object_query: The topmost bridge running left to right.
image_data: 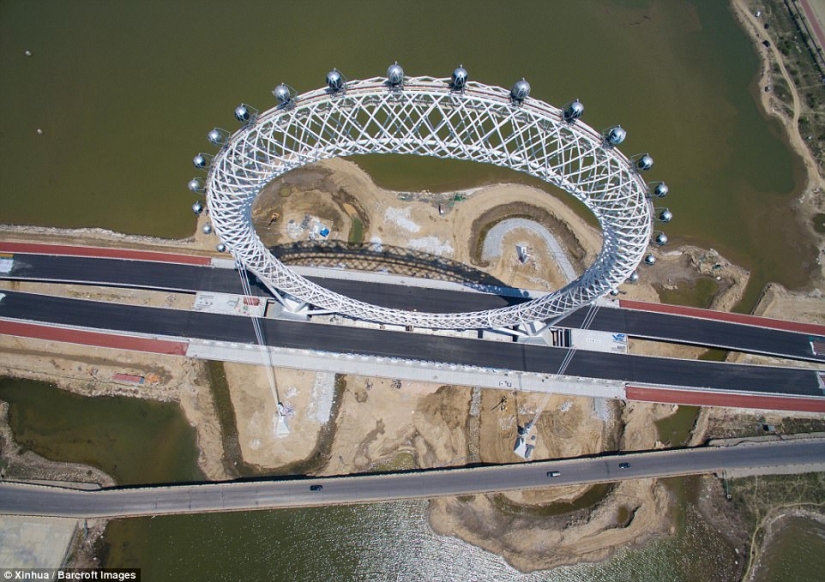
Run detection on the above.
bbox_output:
[0,242,825,413]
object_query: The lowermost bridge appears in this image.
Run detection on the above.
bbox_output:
[0,442,825,518]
